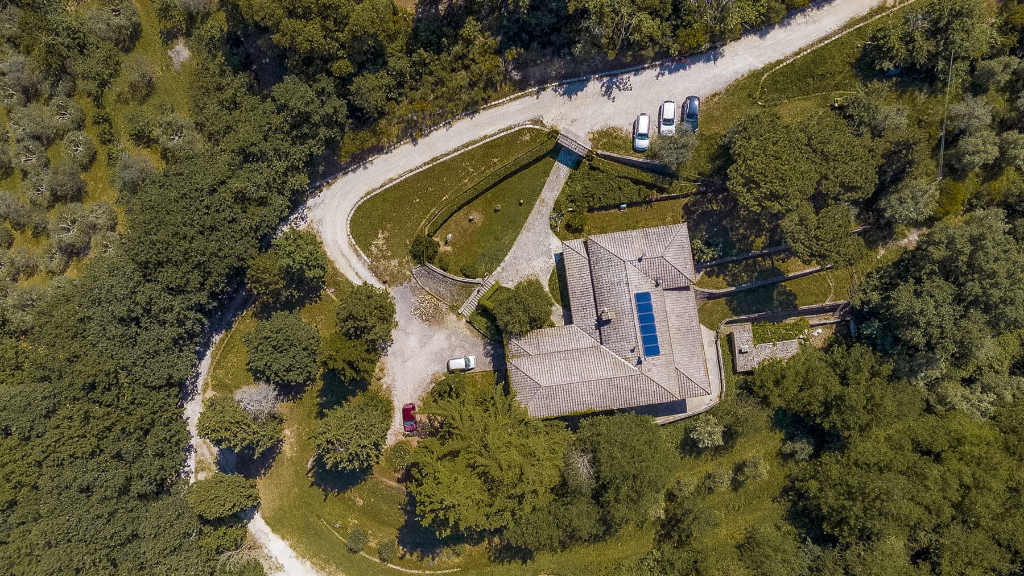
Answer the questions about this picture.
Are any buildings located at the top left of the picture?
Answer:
No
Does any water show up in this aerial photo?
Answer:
No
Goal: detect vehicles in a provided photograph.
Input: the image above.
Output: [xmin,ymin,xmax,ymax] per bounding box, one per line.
[631,113,649,153]
[447,355,476,371]
[680,95,699,134]
[658,100,676,137]
[402,402,417,432]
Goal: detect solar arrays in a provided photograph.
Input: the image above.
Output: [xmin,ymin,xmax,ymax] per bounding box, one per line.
[632,291,660,361]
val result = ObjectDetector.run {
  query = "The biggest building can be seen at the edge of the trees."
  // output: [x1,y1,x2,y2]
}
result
[504,221,712,422]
